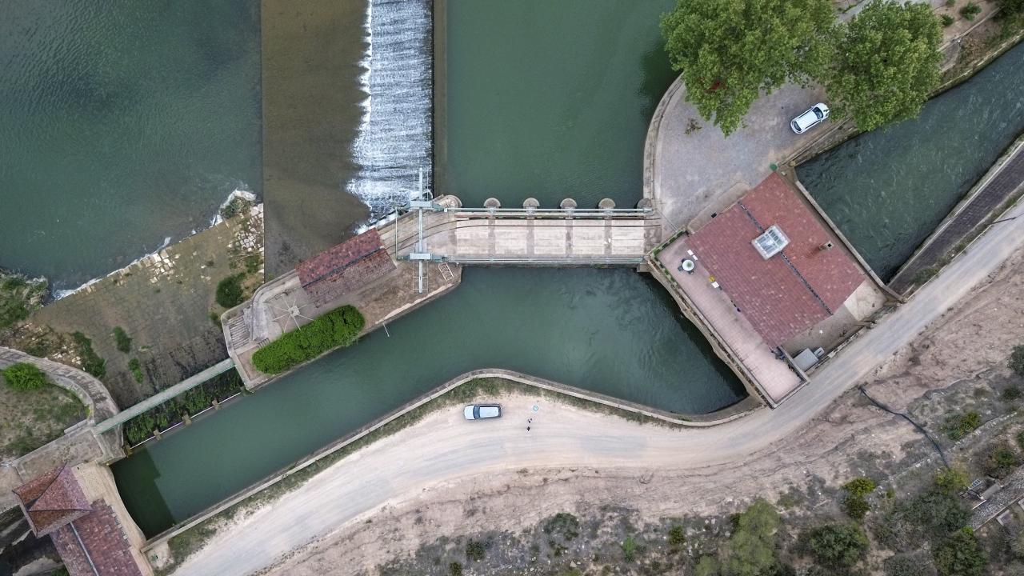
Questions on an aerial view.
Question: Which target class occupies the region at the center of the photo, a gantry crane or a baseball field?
gantry crane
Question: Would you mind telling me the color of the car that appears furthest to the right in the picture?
white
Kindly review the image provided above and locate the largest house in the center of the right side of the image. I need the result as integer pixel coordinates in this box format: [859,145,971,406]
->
[686,172,866,347]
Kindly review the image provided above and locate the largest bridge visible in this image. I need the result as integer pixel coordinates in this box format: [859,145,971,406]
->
[441,195,662,267]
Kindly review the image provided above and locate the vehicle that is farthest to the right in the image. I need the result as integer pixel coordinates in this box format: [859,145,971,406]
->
[792,104,831,133]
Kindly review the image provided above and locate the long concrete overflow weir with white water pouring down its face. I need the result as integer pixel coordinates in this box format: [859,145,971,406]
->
[261,0,446,280]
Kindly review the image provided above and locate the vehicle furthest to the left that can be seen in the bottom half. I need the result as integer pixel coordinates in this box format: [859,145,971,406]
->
[465,404,501,421]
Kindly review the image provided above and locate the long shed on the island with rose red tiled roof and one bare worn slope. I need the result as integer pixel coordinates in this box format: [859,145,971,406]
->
[296,228,397,309]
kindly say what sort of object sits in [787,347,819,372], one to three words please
shed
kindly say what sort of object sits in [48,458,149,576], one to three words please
building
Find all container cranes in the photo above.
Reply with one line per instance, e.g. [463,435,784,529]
[394,164,450,297]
